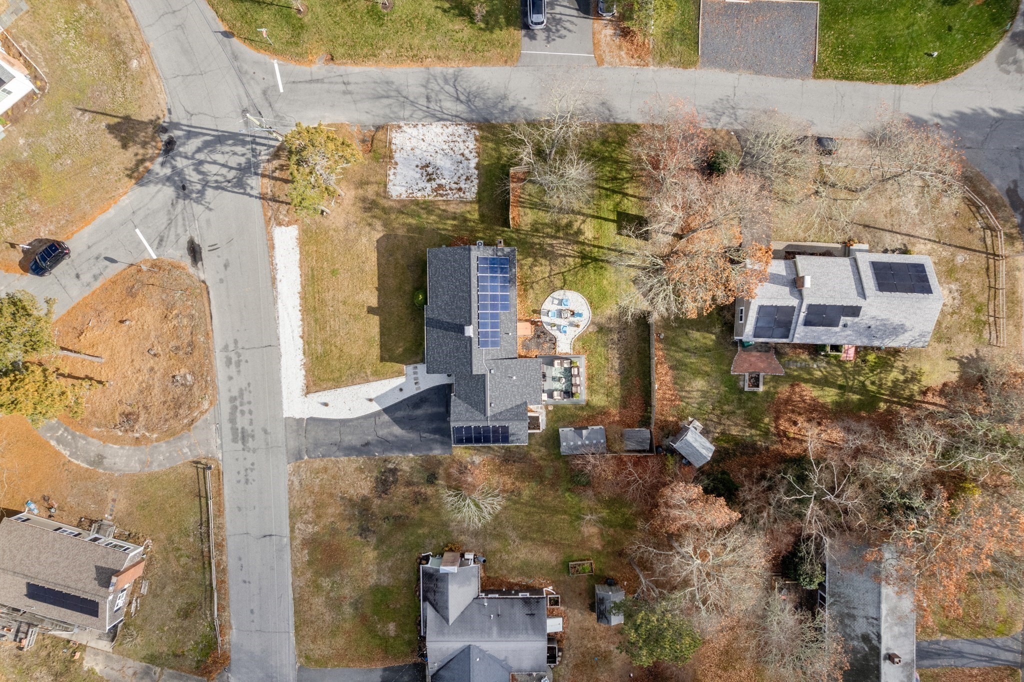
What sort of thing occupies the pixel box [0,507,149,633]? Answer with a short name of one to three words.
house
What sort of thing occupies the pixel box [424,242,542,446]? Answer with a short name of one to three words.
house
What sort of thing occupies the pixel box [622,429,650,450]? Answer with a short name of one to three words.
shed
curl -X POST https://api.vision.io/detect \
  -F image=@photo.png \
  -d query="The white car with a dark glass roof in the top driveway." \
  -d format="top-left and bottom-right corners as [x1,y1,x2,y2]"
[527,0,547,29]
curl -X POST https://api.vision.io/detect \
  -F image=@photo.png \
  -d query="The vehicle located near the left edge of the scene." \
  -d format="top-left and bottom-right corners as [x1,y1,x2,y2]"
[25,236,69,278]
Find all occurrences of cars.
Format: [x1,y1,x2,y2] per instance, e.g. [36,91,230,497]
[598,0,617,13]
[816,129,840,158]
[527,0,547,29]
[25,236,69,278]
